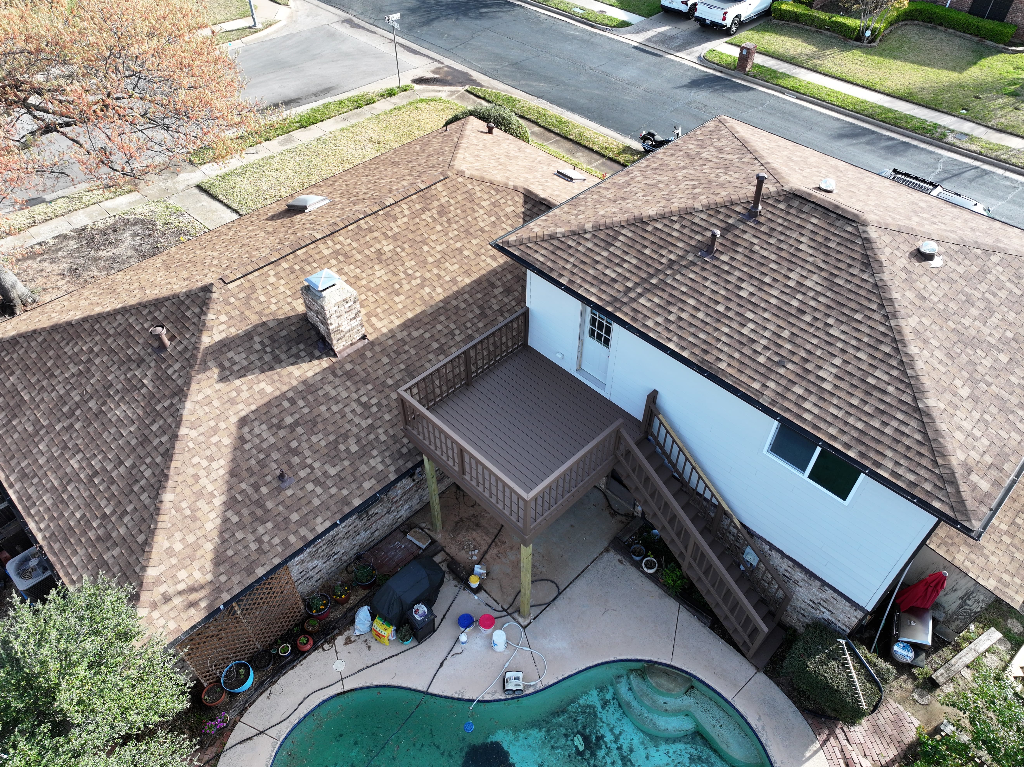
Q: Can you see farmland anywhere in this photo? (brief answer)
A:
No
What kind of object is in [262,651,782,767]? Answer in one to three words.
swimming pool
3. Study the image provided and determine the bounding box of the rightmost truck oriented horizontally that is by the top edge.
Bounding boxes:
[692,0,778,36]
